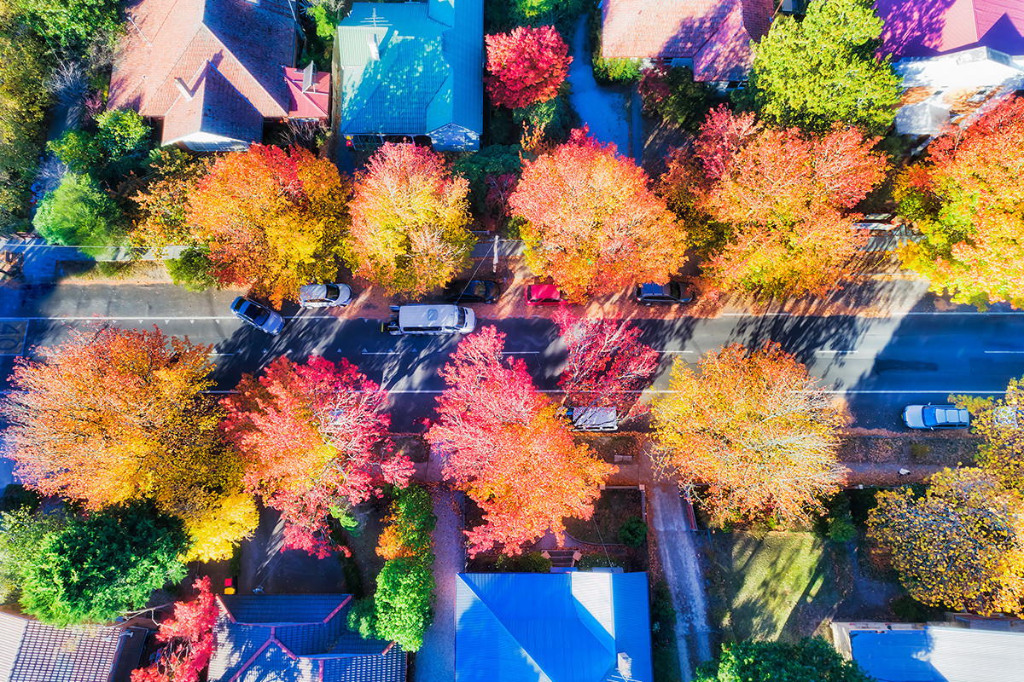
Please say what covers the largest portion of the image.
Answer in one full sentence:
The scene is dominated by trees.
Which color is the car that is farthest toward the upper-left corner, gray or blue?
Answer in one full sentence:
The color of the car that is farthest toward the upper-left corner is blue.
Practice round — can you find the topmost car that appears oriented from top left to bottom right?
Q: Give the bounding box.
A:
[227,289,288,339]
